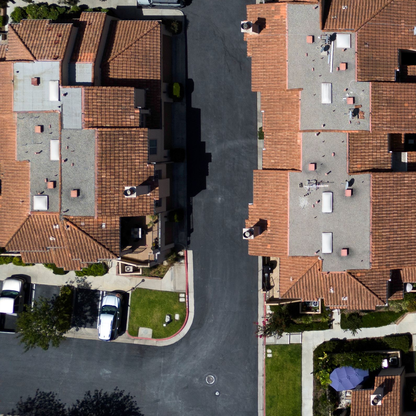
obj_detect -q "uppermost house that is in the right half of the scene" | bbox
[241,0,416,314]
